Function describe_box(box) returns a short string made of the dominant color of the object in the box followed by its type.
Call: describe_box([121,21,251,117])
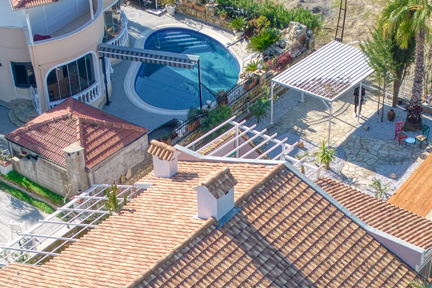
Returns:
blue swimming pool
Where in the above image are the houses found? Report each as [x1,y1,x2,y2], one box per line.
[0,0,138,129]
[0,134,432,288]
